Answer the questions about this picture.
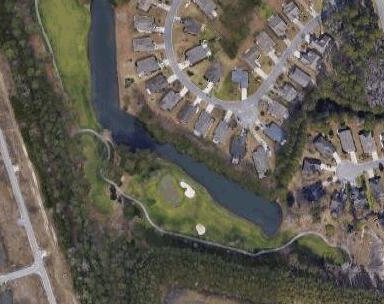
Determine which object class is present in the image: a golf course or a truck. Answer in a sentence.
This aerial view contains a golf course.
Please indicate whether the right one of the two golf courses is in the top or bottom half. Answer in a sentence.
The bottom half of the photo is where the right one of the two golf courses is.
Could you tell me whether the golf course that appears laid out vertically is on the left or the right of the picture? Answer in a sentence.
The golf course that appears laid out vertically appears in the left half of the scene.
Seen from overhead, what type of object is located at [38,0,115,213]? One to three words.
golf course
